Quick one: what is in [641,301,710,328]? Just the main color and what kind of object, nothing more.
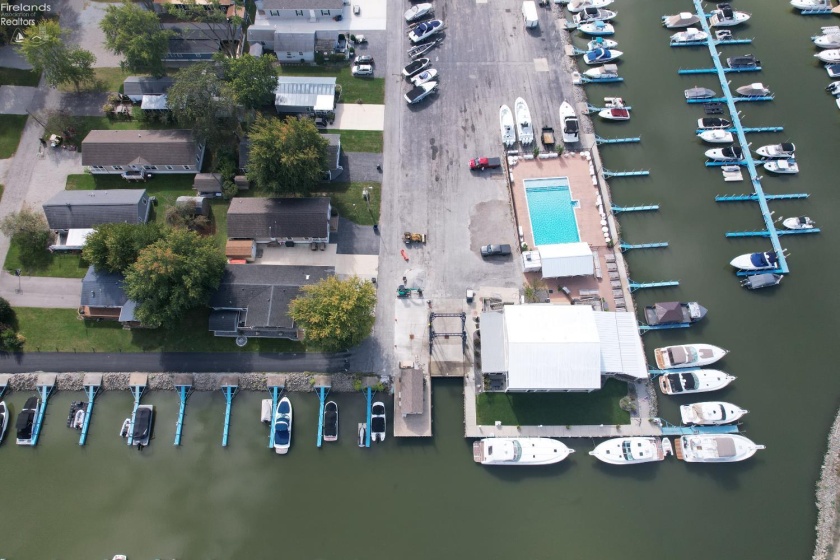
gray boat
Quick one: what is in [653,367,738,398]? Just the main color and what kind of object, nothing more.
white boat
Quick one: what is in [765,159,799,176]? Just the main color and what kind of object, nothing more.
white boat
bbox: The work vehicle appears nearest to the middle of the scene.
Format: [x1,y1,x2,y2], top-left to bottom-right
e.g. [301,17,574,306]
[395,285,424,298]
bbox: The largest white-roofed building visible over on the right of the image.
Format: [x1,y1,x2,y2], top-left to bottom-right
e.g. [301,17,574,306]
[477,293,648,398]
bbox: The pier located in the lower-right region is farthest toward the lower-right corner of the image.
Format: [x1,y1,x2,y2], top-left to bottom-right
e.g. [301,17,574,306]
[661,421,742,438]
